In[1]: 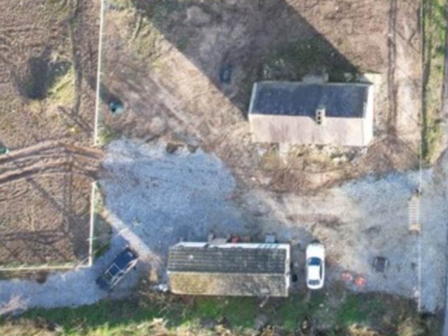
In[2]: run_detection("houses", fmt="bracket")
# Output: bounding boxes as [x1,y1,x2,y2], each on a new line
[169,242,294,299]
[253,70,372,147]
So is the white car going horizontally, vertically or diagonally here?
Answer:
vertically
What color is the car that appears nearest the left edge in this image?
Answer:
blue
